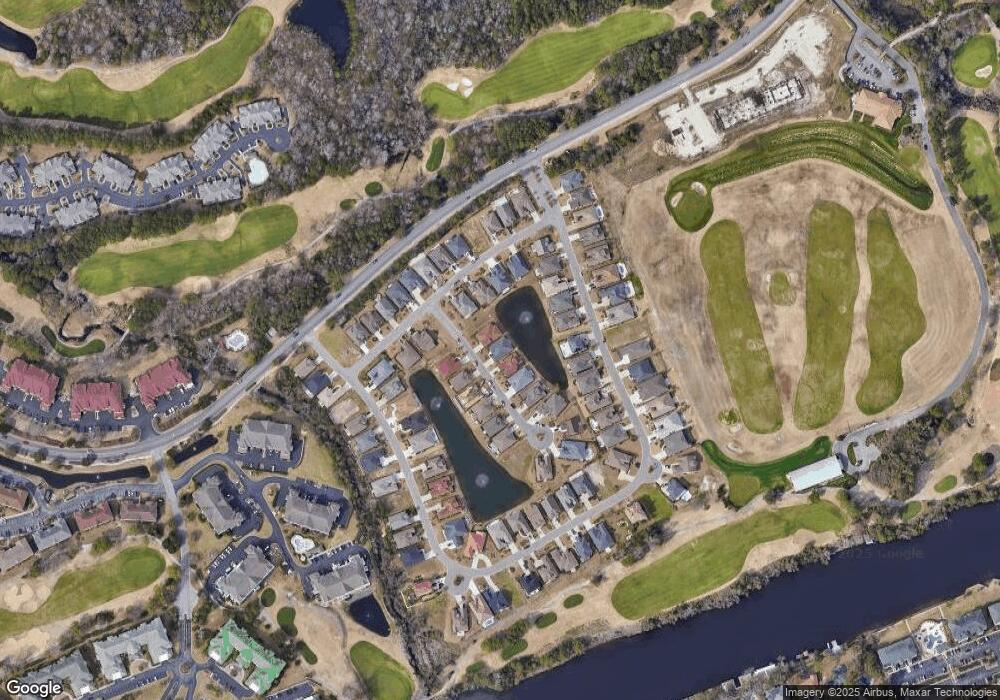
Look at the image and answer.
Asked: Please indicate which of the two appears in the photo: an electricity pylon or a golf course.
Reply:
golf course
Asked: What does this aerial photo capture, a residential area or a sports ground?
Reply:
residential area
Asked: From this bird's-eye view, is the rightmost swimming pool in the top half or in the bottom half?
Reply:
bottom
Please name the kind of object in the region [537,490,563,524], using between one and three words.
house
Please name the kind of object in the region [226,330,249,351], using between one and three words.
swimming pool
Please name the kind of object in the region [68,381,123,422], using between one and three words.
building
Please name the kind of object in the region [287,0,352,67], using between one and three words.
pond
